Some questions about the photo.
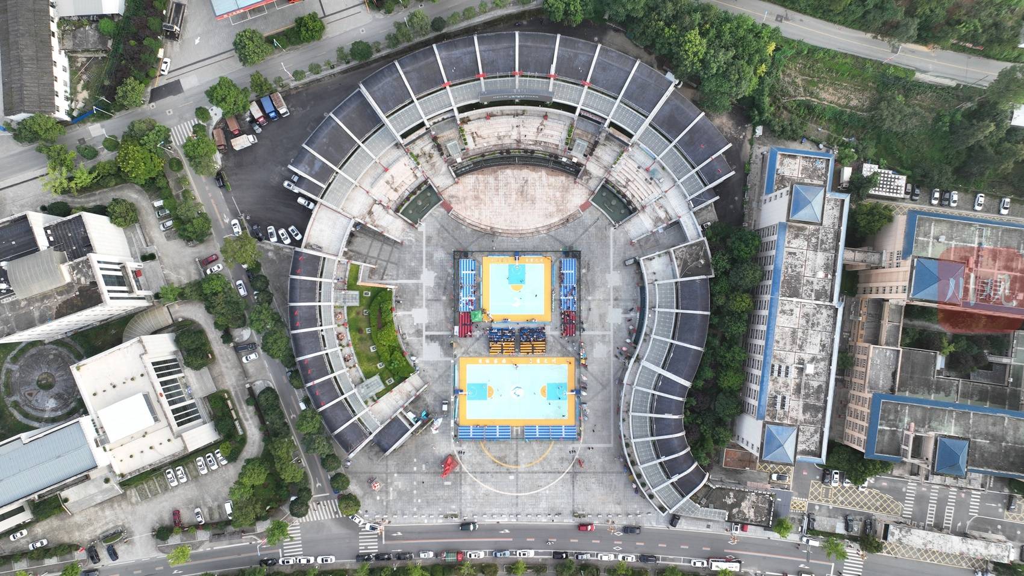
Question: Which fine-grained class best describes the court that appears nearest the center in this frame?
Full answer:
The court that appears nearest the center can be classified as a basketball court.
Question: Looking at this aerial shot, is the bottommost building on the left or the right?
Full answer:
You can find the bottommost building on the right side of the picture.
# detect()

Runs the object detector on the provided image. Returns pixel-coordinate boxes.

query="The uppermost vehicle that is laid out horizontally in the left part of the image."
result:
[229,135,259,150]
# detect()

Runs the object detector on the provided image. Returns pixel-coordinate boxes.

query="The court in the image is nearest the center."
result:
[482,256,551,323]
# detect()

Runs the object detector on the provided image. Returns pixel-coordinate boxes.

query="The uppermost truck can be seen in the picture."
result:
[163,3,184,43]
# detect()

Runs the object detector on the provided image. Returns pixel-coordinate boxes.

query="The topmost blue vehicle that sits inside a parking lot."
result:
[258,93,279,122]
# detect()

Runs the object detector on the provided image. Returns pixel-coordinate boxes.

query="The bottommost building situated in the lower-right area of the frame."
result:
[876,518,1015,565]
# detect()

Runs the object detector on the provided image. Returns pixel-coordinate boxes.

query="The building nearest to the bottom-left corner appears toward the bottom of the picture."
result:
[0,415,126,533]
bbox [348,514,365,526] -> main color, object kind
white vehicle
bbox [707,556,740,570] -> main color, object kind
white vehicle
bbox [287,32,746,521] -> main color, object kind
white stadium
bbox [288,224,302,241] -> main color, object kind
white car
